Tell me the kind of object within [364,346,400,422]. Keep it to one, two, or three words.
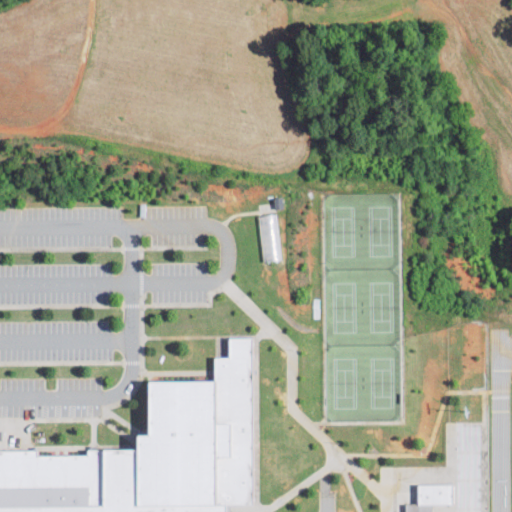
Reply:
tennis court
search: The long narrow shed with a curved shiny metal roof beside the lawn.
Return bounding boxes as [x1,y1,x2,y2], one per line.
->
[260,214,282,264]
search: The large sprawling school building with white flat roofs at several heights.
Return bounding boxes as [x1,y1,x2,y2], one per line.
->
[0,338,253,512]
